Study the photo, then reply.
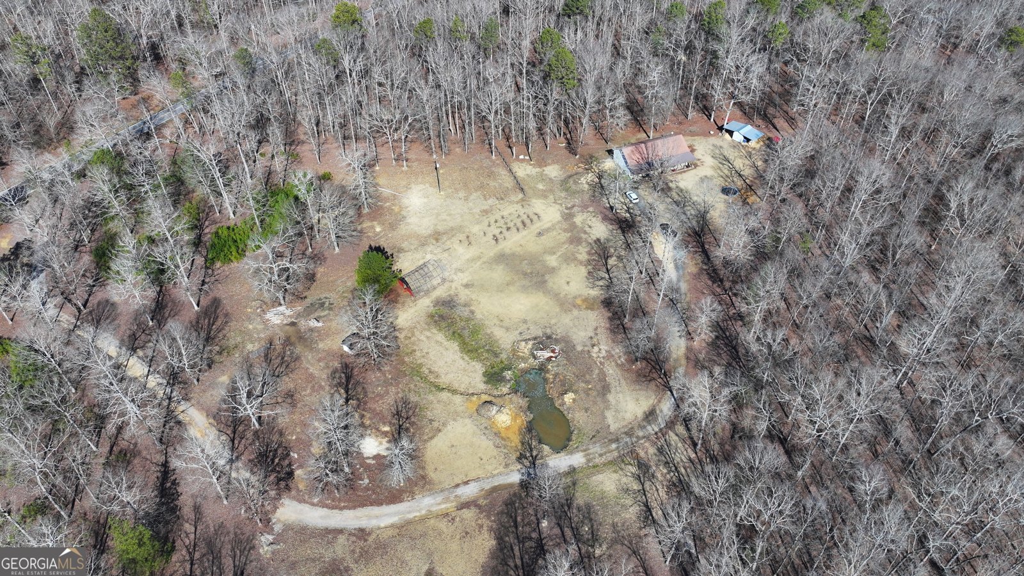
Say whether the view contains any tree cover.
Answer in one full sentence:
Yes, there's tree cover in this view.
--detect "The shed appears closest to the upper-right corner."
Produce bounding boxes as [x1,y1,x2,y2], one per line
[721,120,762,146]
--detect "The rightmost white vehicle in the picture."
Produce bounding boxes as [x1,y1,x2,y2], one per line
[626,191,641,203]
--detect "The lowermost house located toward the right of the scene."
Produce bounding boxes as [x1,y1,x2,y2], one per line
[613,136,698,180]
